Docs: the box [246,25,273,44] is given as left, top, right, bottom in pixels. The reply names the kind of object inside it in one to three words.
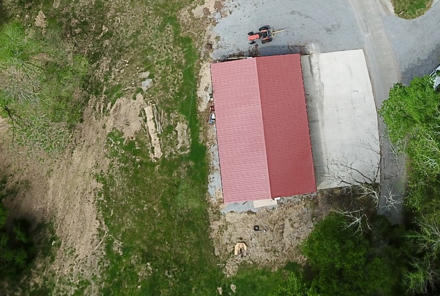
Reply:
work vehicle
